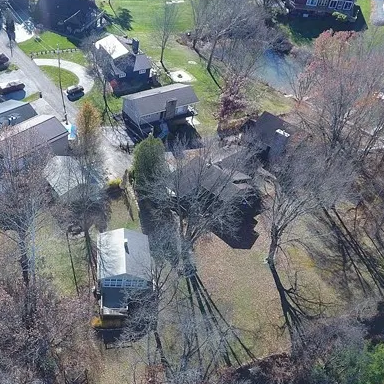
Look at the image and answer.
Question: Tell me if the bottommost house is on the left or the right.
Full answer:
The bottommost house sits on the left side.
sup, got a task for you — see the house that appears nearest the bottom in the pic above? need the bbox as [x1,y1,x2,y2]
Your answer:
[98,229,153,320]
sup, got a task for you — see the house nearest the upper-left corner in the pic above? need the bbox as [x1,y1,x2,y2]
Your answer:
[30,0,92,34]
